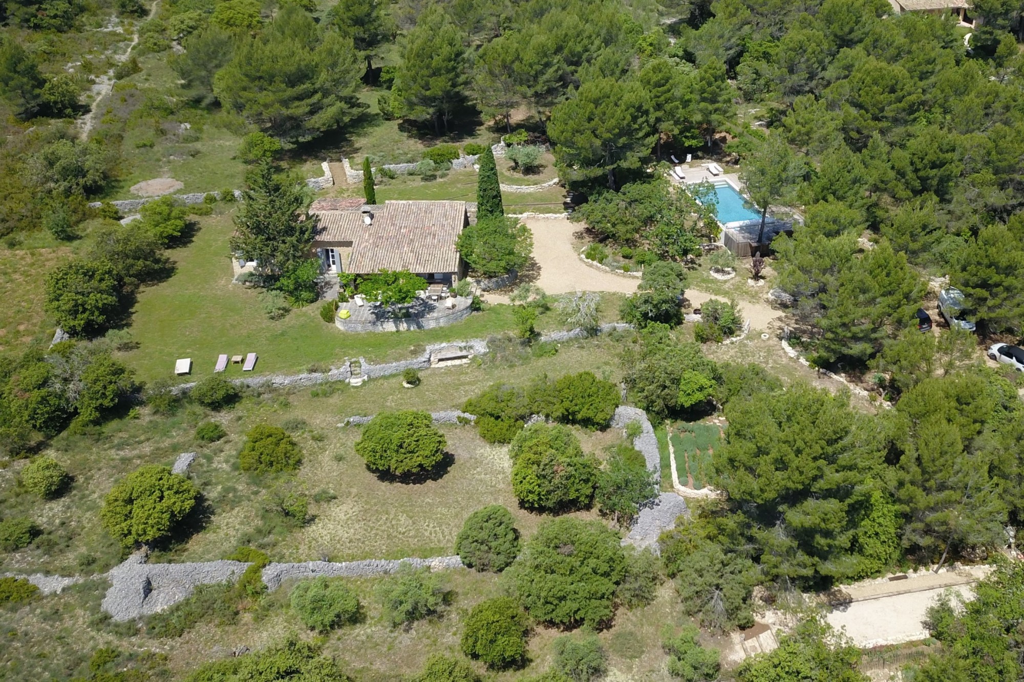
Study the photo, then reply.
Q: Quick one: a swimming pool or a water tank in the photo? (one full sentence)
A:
The one in the frame is a swimming pool.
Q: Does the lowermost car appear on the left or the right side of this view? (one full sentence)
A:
The lowermost car is on the right side of the image.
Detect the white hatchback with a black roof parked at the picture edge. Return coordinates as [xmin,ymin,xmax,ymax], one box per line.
[986,341,1024,368]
